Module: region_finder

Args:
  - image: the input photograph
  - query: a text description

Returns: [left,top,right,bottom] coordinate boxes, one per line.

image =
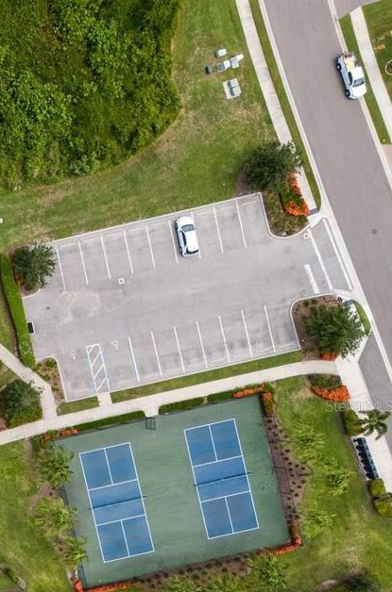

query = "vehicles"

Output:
[339,47,371,98]
[174,215,202,257]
